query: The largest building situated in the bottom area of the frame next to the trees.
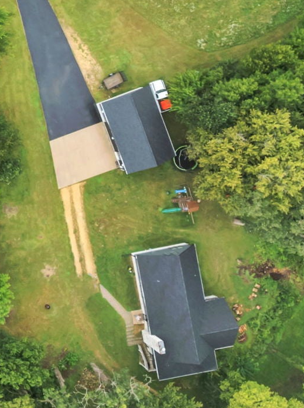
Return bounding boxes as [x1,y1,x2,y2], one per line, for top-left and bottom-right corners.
[131,242,239,381]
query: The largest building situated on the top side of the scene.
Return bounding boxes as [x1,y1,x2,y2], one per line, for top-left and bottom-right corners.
[98,84,177,174]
